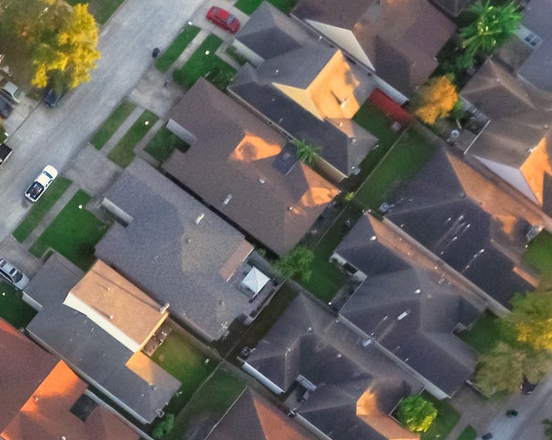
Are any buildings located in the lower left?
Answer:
Yes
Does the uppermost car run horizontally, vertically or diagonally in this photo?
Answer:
diagonally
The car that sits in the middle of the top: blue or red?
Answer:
red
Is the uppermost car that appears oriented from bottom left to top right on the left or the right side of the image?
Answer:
left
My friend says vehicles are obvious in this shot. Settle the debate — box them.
[19,159,62,208]
[35,77,71,116]
[0,137,16,170]
[0,95,22,124]
[0,256,28,290]
[0,73,31,108]
[203,2,244,39]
